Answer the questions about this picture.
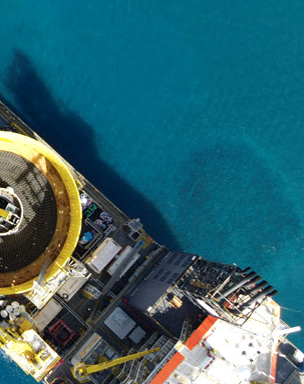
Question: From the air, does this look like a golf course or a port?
port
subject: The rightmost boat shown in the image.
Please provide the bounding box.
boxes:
[275,337,304,366]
